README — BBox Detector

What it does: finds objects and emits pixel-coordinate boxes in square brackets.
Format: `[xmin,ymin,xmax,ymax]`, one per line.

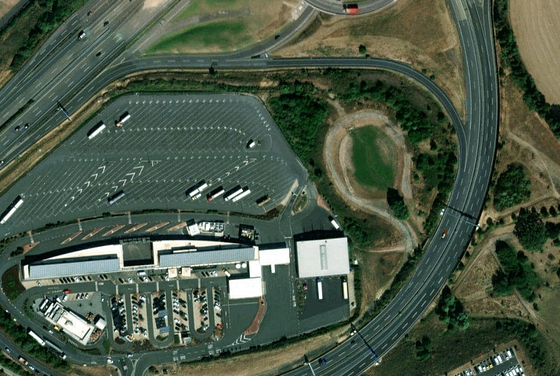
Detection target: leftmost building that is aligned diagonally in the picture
[47,303,94,343]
